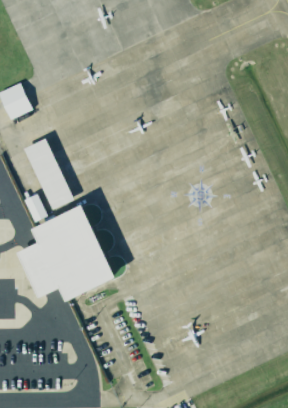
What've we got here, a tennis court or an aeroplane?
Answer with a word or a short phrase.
aeroplane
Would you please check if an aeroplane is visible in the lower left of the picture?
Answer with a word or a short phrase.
No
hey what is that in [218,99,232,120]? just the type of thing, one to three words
airplane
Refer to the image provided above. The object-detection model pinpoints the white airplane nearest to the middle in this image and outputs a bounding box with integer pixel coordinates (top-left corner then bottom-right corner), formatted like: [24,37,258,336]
[128,116,152,134]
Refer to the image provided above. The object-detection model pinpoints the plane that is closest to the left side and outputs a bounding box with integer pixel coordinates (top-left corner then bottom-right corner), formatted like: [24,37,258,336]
[82,66,102,83]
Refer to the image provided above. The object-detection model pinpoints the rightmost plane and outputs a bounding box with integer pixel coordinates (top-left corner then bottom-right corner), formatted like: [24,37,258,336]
[252,170,268,191]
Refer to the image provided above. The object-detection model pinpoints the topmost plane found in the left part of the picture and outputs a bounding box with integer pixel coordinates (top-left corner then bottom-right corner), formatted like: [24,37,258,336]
[98,8,113,28]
